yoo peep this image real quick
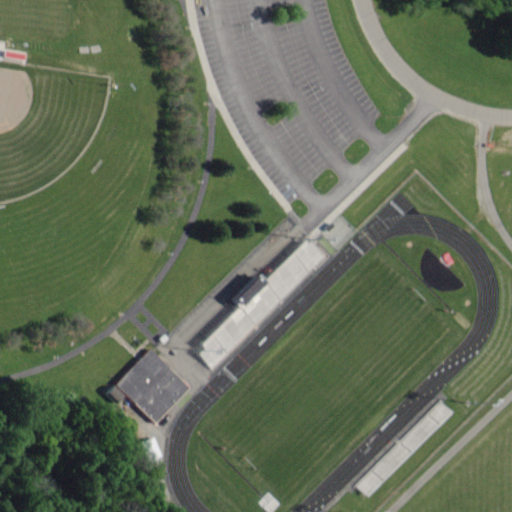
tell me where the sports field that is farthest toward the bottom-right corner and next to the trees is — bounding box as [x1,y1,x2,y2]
[186,234,477,512]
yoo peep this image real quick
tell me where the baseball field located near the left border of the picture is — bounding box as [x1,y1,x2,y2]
[0,63,109,204]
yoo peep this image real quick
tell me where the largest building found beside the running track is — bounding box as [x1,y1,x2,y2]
[110,350,190,424]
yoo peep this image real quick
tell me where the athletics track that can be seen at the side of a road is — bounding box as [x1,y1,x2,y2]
[167,189,496,512]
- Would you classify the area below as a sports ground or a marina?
sports ground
